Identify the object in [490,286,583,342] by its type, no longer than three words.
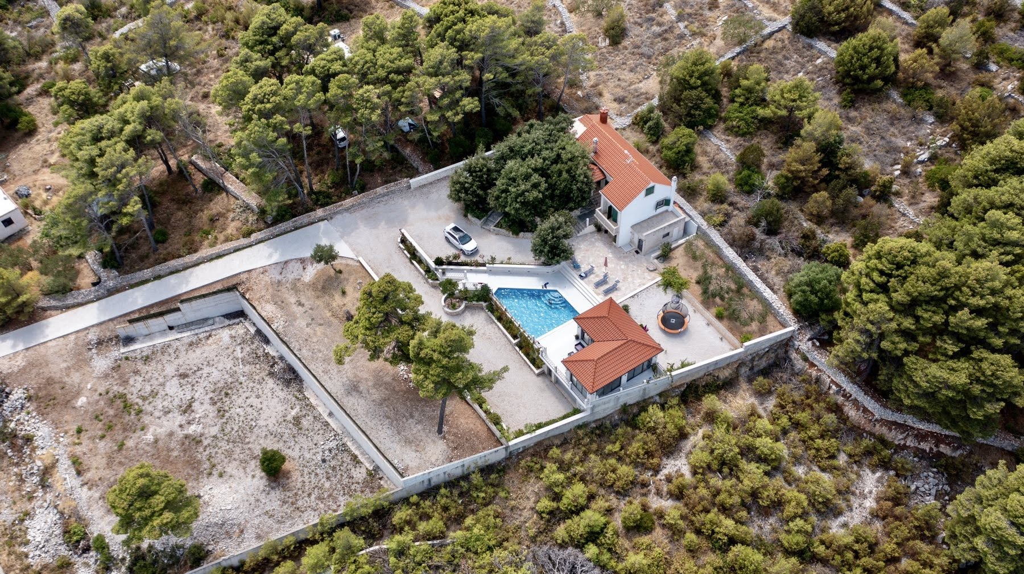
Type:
swimming pool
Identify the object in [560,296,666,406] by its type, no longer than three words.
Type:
building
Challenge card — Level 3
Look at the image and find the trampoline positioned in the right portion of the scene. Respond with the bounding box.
[656,295,691,338]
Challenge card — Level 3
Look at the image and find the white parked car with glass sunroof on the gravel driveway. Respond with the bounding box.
[442,225,478,255]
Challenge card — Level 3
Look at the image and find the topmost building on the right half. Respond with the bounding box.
[562,112,691,254]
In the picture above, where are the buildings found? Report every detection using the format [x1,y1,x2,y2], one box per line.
[562,112,691,254]
[0,185,23,234]
[560,296,666,406]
